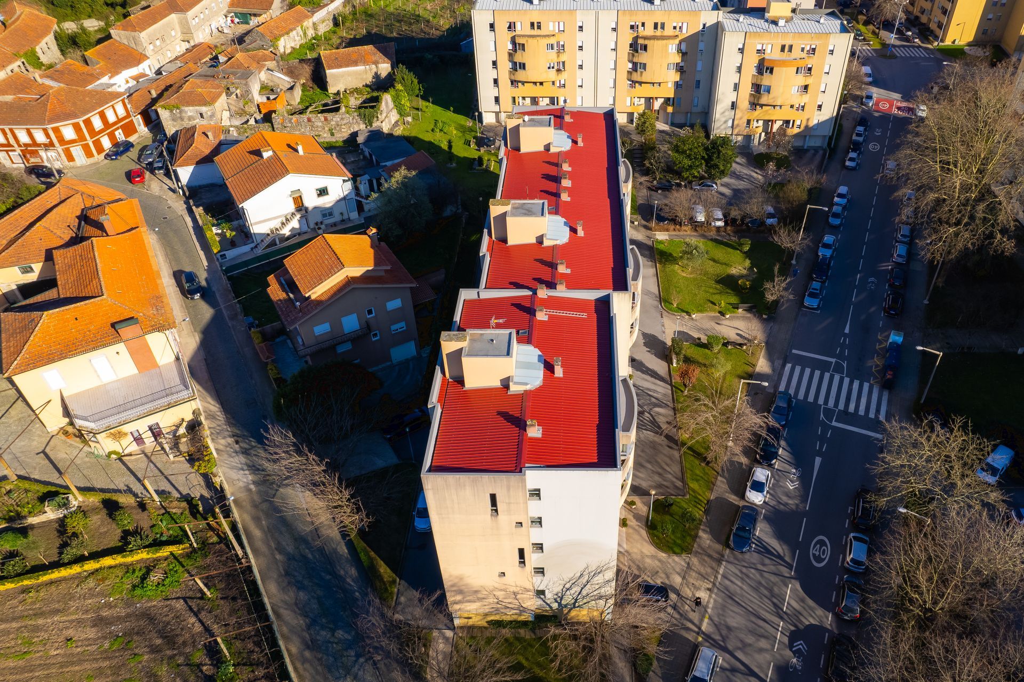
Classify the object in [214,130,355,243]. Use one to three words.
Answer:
house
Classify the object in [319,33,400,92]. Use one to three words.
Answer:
barn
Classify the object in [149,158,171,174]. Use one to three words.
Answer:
car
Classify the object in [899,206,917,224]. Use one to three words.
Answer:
car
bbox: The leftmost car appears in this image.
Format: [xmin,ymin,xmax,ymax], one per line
[30,166,60,179]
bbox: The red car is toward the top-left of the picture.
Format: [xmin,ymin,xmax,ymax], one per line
[126,171,151,184]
